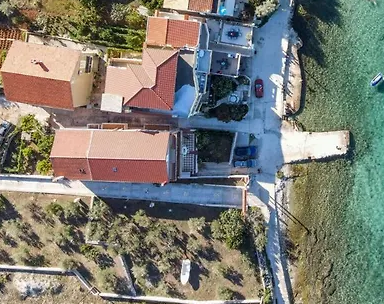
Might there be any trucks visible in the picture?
No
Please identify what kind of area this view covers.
residential area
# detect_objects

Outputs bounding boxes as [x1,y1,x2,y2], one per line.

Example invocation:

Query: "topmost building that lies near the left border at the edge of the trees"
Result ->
[1,40,100,109]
